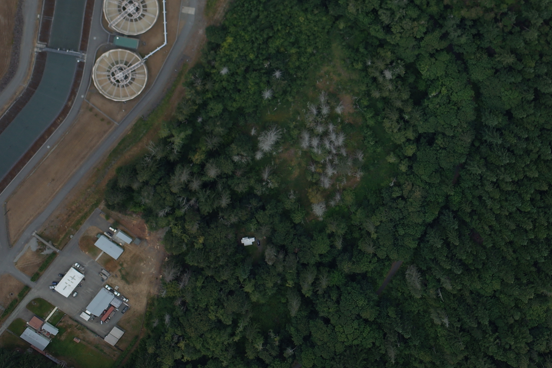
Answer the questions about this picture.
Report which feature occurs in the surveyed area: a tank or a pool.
tank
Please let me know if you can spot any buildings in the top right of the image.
No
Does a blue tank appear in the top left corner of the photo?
No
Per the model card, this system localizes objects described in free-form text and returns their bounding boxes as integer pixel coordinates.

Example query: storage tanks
[92,48,150,102]
[103,0,161,37]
